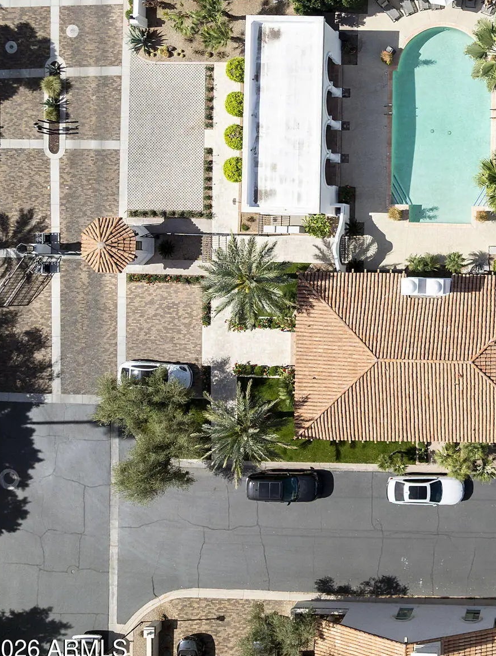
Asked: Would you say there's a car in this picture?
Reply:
Yes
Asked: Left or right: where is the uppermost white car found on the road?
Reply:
right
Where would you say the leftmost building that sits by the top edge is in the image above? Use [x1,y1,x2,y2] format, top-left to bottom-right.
[242,16,351,215]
